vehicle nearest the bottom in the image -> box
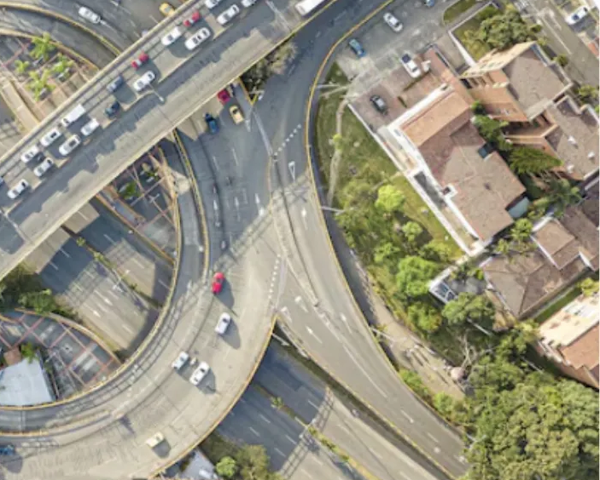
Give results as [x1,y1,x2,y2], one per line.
[195,466,217,480]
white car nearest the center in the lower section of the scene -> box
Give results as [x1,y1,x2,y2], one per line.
[216,313,230,334]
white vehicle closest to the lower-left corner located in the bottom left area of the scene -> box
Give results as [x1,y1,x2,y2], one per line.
[146,433,165,448]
